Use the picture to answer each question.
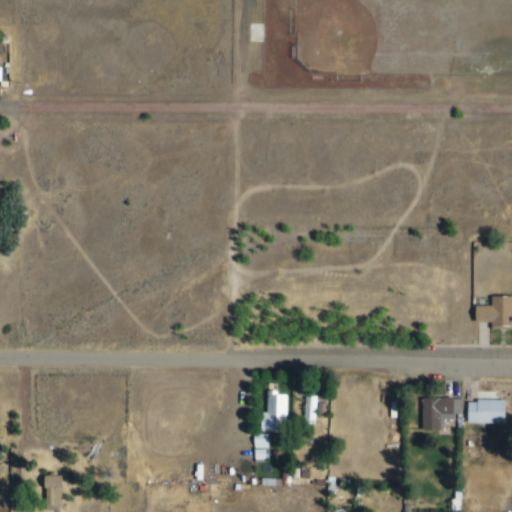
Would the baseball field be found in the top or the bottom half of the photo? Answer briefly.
top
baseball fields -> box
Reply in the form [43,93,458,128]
[249,0,512,90]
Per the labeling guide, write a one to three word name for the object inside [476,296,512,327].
house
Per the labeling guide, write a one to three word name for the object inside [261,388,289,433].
house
